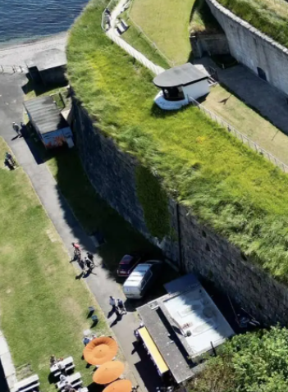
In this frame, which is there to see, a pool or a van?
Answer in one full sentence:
Visible in the photo is a van.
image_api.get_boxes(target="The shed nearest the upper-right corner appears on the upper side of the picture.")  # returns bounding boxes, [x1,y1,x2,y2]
[154,63,213,111]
